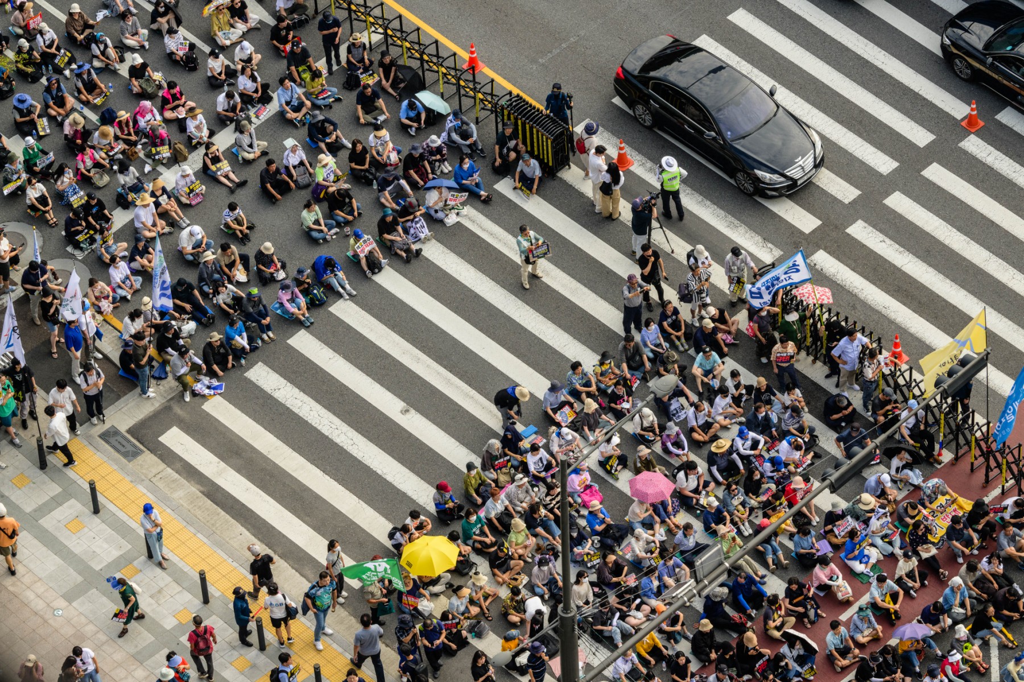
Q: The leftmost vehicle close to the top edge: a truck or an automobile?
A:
automobile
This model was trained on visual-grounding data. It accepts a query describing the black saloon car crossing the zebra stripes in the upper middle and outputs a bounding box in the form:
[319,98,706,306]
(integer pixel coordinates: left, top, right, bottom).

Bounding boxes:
[615,33,828,200]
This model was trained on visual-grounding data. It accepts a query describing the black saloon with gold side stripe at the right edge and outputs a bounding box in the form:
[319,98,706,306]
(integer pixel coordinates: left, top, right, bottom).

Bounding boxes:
[938,5,1024,117]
